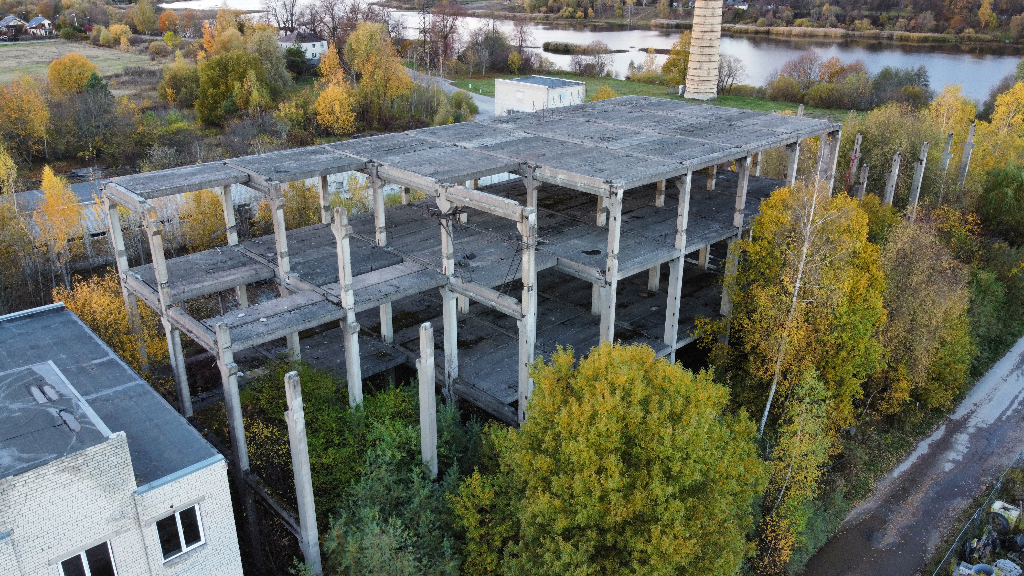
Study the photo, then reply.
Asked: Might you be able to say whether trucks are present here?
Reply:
No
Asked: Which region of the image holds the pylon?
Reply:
top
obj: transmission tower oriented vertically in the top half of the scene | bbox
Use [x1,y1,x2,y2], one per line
[405,0,437,78]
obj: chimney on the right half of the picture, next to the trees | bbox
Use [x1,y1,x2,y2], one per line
[684,0,722,102]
